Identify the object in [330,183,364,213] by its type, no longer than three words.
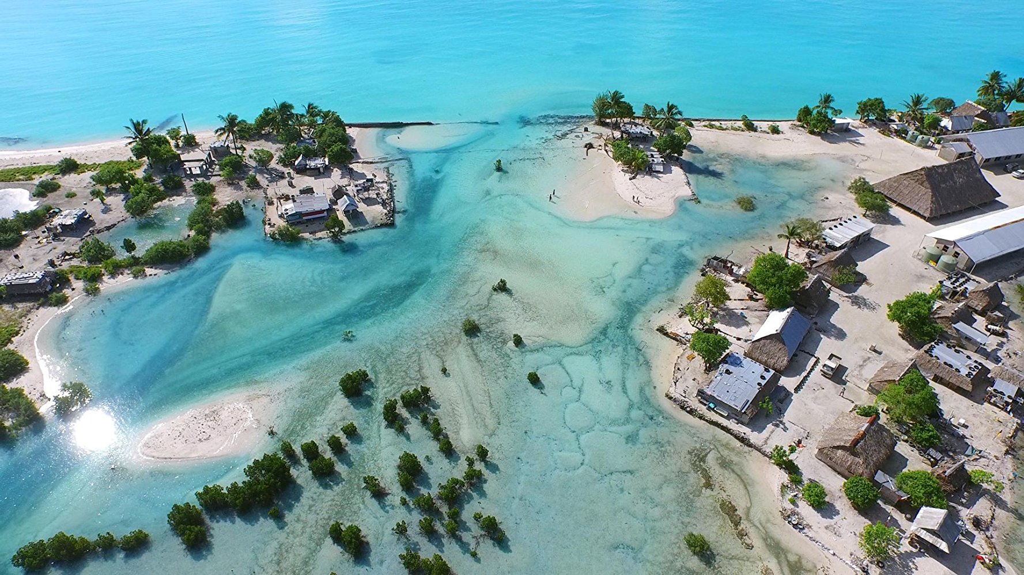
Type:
shed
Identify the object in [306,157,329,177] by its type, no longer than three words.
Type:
building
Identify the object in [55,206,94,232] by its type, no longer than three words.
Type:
shed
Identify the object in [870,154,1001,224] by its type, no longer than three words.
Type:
house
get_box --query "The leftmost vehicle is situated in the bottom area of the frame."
[821,349,844,376]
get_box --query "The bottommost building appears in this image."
[910,506,964,558]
